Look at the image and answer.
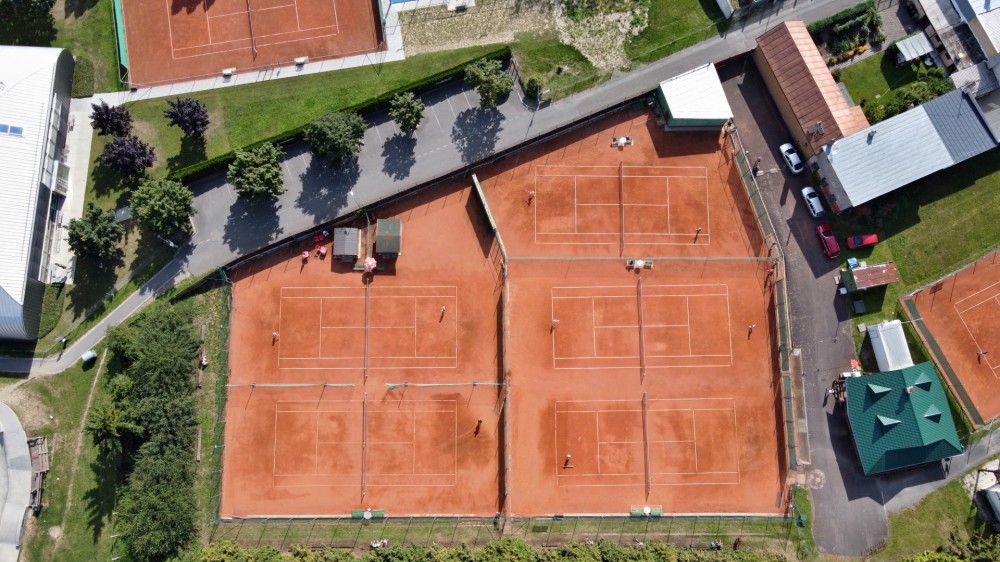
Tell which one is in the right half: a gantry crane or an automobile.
automobile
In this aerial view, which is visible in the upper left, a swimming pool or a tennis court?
tennis court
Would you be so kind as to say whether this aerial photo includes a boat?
No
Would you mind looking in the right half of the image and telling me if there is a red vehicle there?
Yes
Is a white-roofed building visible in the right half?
Yes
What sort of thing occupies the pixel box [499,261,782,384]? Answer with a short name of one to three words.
tennis court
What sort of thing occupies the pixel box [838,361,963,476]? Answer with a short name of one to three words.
house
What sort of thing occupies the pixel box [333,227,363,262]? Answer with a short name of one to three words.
shed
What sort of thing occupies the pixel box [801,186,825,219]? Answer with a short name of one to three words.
car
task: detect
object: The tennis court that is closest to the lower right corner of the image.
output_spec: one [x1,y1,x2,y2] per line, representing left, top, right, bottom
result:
[908,248,1000,422]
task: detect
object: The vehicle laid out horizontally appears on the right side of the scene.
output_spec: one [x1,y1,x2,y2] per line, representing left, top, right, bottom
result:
[846,233,878,249]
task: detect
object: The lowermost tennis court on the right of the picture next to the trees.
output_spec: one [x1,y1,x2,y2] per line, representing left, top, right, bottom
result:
[502,384,792,518]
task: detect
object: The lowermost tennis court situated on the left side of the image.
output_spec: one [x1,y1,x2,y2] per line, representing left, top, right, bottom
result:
[220,385,505,518]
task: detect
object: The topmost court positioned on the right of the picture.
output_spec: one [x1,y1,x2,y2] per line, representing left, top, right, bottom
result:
[496,105,773,261]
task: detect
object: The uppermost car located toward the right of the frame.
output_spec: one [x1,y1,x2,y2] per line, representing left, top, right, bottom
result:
[778,143,804,176]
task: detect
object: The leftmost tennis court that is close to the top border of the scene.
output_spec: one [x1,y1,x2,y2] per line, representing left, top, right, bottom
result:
[121,0,385,88]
